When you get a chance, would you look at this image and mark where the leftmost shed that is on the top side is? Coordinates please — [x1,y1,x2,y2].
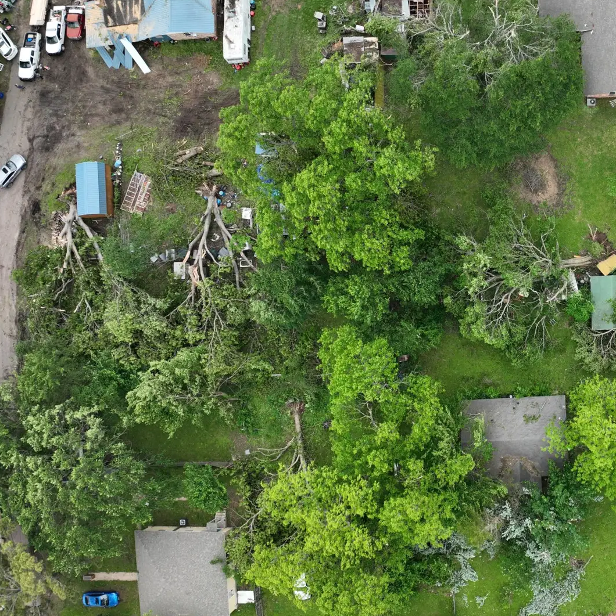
[75,162,117,218]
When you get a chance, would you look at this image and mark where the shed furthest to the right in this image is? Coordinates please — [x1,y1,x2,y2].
[591,276,616,330]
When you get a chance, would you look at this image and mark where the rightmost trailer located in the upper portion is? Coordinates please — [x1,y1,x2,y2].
[225,0,256,68]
